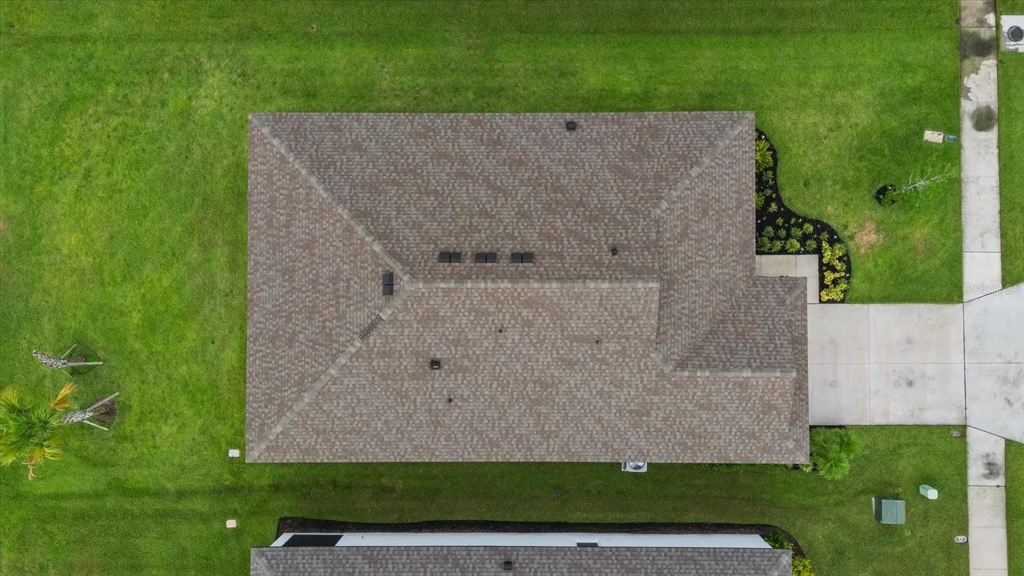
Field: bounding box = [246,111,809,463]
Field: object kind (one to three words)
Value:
house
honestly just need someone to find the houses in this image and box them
[246,111,809,463]
[251,532,792,576]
